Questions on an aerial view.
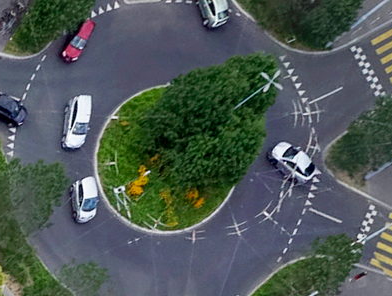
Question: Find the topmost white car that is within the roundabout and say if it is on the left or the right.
left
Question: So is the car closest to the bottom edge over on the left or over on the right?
left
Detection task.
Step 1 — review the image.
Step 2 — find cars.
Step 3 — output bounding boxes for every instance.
[196,0,232,28]
[270,144,319,184]
[62,96,92,147]
[0,87,29,126]
[71,176,100,220]
[59,17,98,66]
